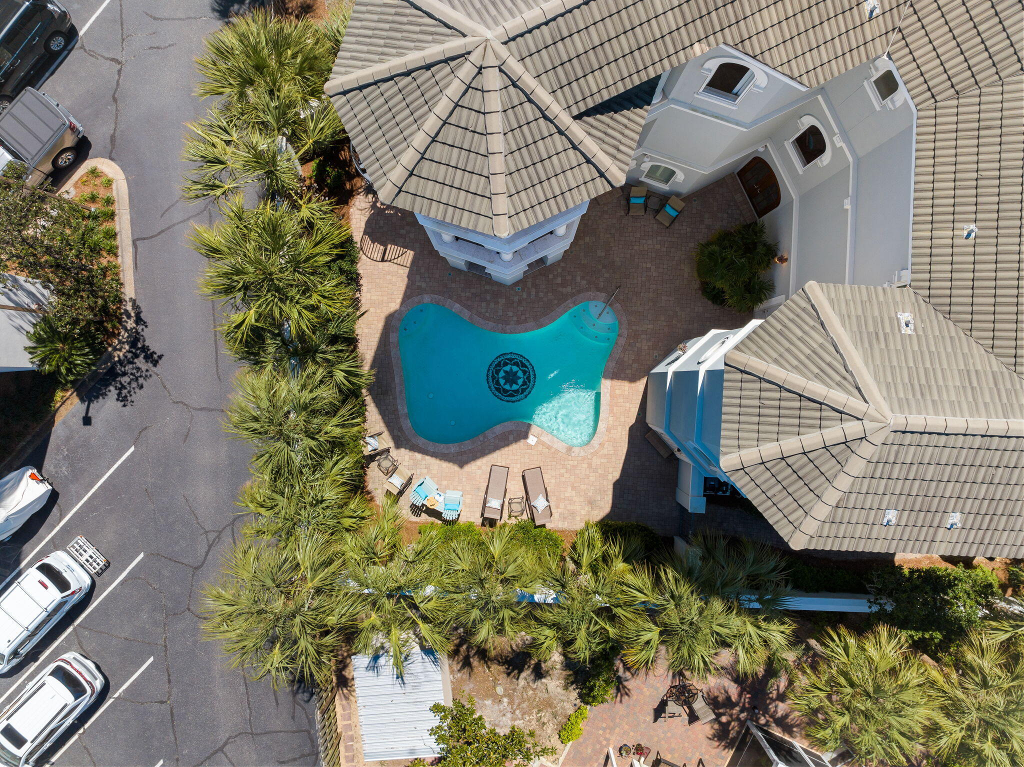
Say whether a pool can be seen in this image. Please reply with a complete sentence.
Yes, a pool is visible in the scene.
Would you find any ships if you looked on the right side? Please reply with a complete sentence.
No, on the right side there is no ship.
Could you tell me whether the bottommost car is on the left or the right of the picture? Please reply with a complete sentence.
The bottommost car is on the left side of the image.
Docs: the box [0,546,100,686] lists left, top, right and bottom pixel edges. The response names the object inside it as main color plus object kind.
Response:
white vehicle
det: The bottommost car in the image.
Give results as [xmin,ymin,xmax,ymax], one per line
[0,644,114,767]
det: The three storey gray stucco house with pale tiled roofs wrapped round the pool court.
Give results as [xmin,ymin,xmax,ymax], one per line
[315,0,1024,559]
